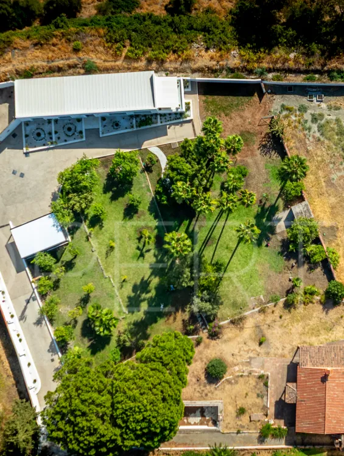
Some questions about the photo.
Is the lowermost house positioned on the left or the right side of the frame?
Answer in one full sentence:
The lowermost house sits on the right side.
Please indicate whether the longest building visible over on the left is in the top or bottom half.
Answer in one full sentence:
It is in the top half that the longest building visible over on the left appears.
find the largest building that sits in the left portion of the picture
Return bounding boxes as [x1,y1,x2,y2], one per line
[14,71,191,125]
